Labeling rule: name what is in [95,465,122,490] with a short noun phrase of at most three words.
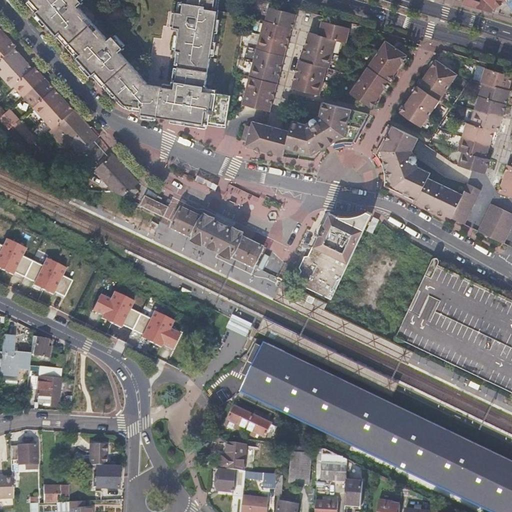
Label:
house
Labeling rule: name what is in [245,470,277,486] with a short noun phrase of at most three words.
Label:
shed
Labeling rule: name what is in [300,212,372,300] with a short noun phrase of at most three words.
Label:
building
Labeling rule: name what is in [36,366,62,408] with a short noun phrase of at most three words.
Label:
house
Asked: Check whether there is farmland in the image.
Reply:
No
